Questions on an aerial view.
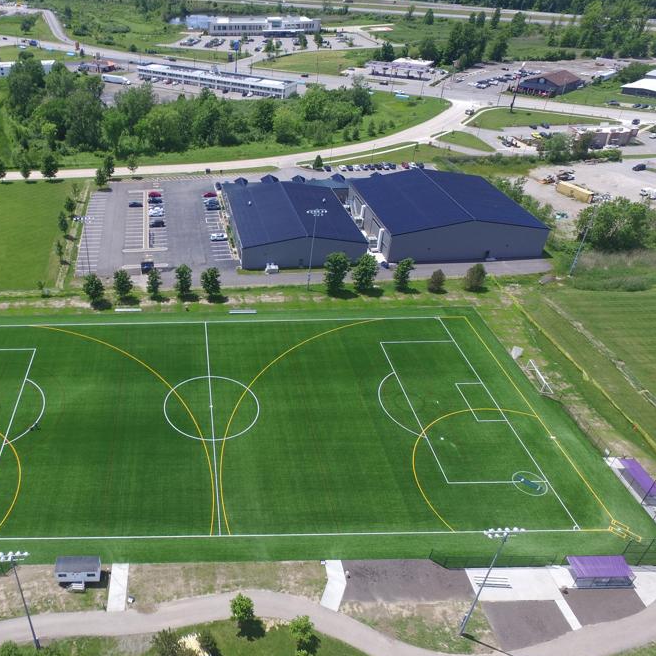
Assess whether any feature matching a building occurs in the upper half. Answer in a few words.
Yes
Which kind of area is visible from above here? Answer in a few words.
sports ground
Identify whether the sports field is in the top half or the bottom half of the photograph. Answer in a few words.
bottom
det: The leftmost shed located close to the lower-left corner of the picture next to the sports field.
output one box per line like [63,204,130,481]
[51,556,101,595]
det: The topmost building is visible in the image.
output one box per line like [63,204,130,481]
[209,16,327,36]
